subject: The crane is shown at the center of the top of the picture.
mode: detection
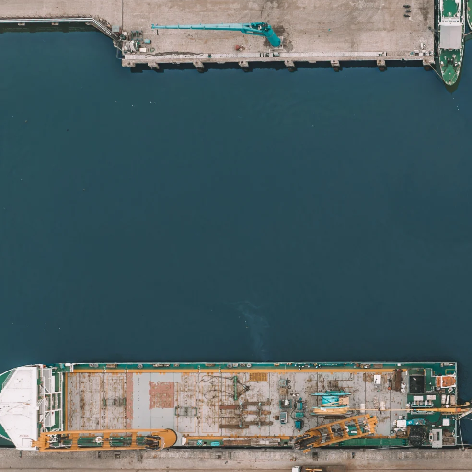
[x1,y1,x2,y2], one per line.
[151,19,283,52]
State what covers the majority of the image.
water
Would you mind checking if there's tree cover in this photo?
No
